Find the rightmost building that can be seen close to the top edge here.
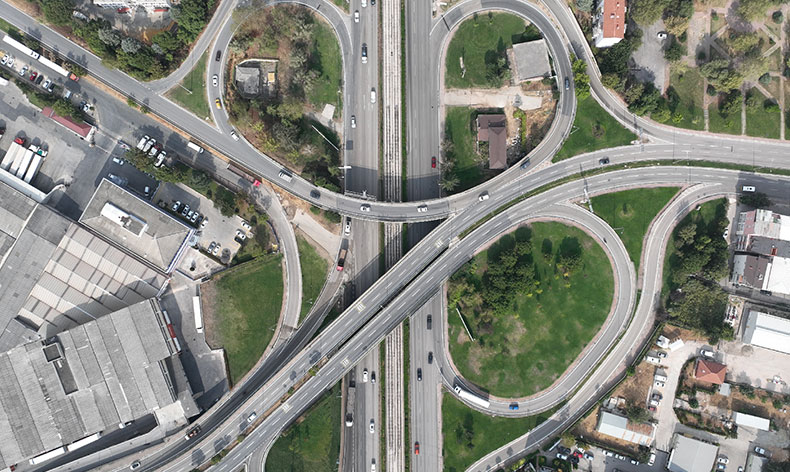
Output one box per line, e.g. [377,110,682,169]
[591,0,624,47]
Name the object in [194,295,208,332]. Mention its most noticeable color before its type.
white vehicle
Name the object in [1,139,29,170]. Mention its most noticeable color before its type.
white truck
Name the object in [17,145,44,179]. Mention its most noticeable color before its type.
white truck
